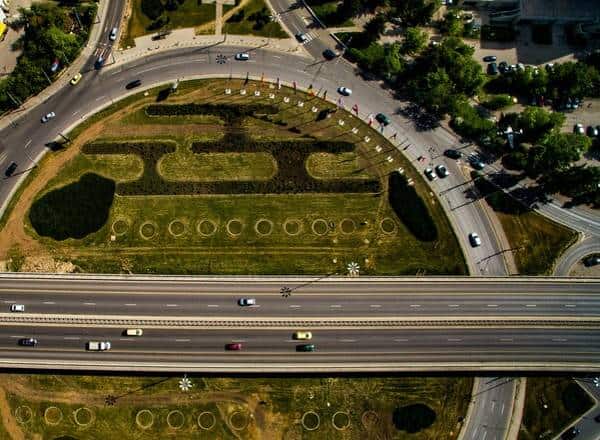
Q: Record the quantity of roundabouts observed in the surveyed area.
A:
0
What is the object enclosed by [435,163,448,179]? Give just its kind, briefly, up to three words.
vehicle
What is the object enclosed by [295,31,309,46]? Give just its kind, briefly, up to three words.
car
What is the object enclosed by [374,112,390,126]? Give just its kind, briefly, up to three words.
vehicle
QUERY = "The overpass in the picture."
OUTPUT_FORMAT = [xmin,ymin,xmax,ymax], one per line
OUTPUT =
[0,273,600,373]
